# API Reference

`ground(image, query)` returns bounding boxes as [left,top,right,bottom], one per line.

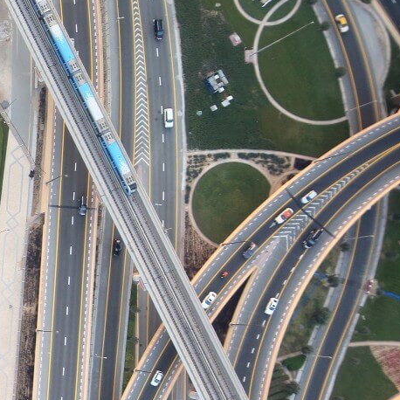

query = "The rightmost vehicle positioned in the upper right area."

[335,15,347,33]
